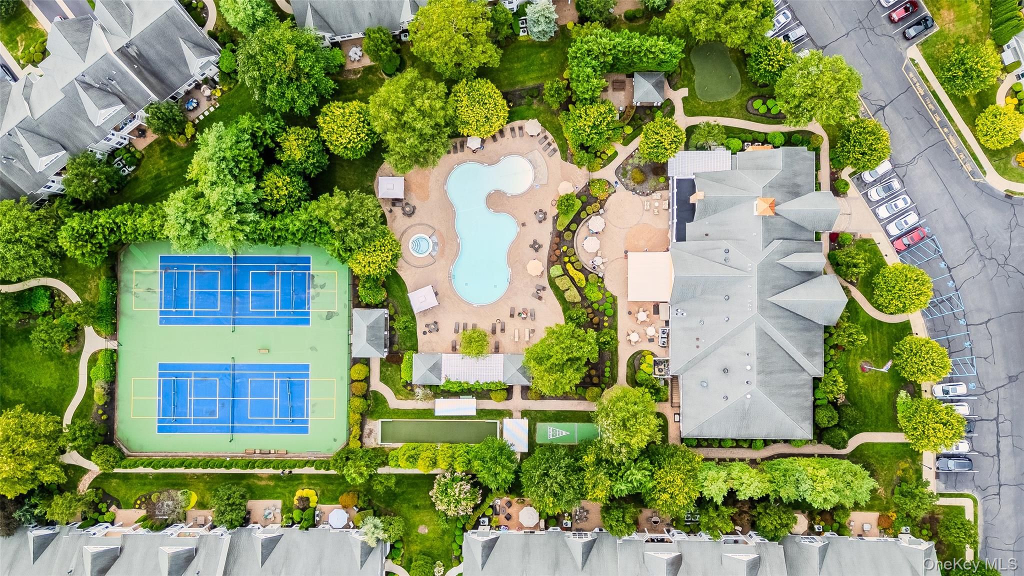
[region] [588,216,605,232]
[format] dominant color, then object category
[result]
white umbrella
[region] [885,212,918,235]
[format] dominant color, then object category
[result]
white car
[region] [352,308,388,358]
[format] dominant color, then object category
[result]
white gazebo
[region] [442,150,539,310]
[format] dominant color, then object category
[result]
white swimming pool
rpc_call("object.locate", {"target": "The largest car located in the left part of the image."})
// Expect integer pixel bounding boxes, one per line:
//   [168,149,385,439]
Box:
[47,3,67,21]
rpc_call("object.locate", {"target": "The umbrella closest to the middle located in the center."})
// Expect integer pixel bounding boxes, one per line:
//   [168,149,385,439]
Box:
[527,260,543,276]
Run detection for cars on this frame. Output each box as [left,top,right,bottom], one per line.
[859,158,896,185]
[764,13,792,36]
[886,0,918,24]
[876,196,908,219]
[931,382,965,397]
[885,212,918,235]
[950,402,969,414]
[936,456,970,472]
[866,179,899,202]
[47,3,67,21]
[892,229,925,252]
[951,439,970,453]
[782,24,807,43]
[964,419,972,432]
[901,16,934,41]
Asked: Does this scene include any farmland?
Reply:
No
